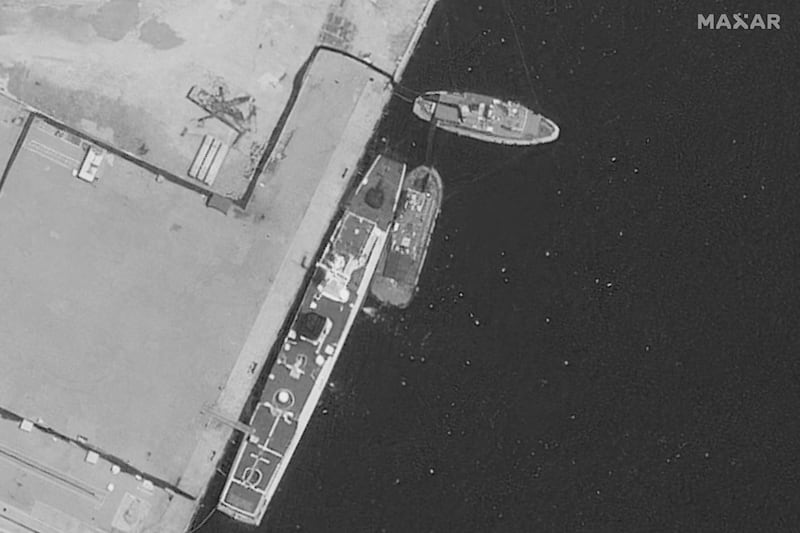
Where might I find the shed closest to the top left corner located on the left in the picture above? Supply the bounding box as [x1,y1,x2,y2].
[78,145,106,182]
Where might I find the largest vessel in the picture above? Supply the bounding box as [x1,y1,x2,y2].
[217,155,407,524]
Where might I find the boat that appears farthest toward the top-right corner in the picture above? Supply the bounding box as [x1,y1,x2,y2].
[413,91,560,145]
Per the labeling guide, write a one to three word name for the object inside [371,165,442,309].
boat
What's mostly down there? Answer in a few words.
water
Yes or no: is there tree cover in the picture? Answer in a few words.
No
